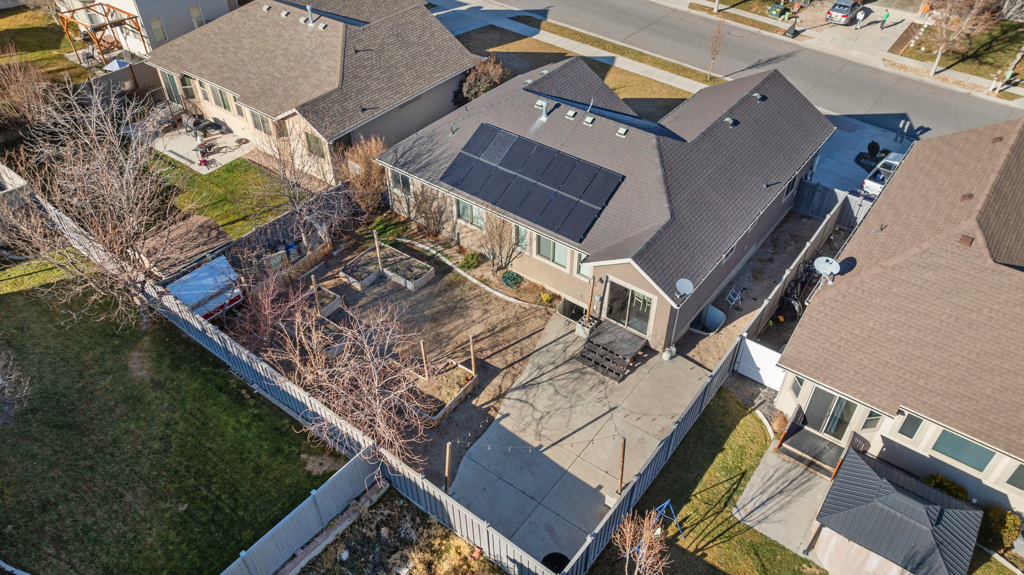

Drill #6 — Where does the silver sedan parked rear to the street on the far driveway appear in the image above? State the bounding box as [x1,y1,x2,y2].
[828,0,864,21]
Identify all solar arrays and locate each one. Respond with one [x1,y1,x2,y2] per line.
[438,120,622,239]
